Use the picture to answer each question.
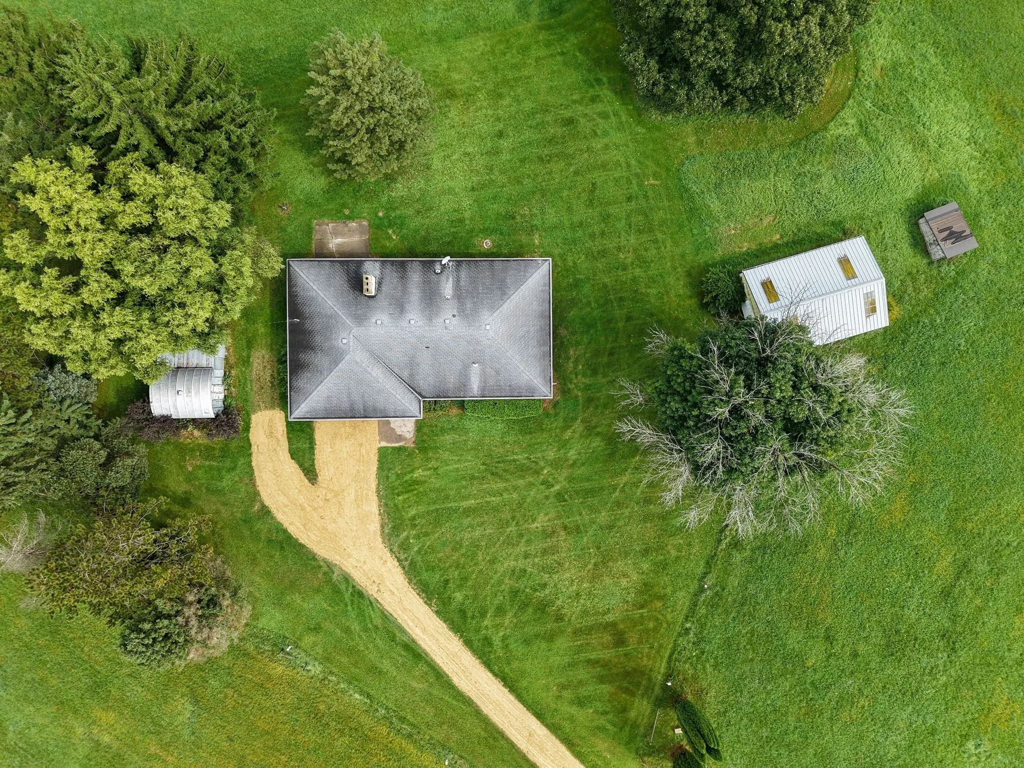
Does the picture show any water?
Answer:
No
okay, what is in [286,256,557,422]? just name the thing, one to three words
house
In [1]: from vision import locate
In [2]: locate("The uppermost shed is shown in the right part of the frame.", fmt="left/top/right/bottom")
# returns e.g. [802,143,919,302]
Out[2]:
[913,202,979,259]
